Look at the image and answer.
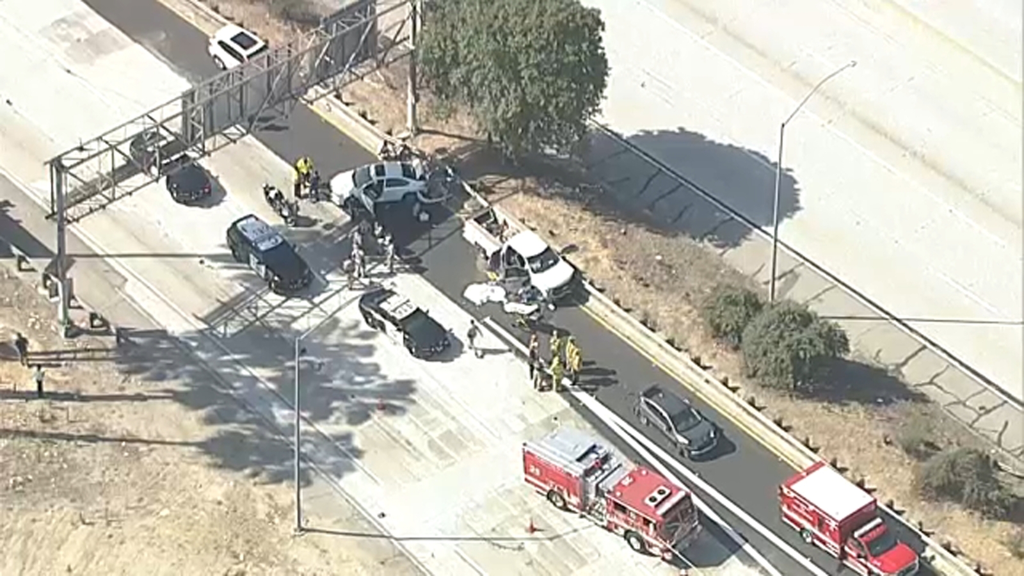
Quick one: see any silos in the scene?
No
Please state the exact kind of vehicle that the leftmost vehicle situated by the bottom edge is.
truck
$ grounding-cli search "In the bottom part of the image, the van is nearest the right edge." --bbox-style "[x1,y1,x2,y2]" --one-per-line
[778,464,912,576]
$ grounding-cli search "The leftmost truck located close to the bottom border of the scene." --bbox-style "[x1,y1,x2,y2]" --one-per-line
[518,416,709,571]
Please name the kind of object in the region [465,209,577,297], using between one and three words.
truck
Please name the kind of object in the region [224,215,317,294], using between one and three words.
car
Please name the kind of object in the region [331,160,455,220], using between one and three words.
car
